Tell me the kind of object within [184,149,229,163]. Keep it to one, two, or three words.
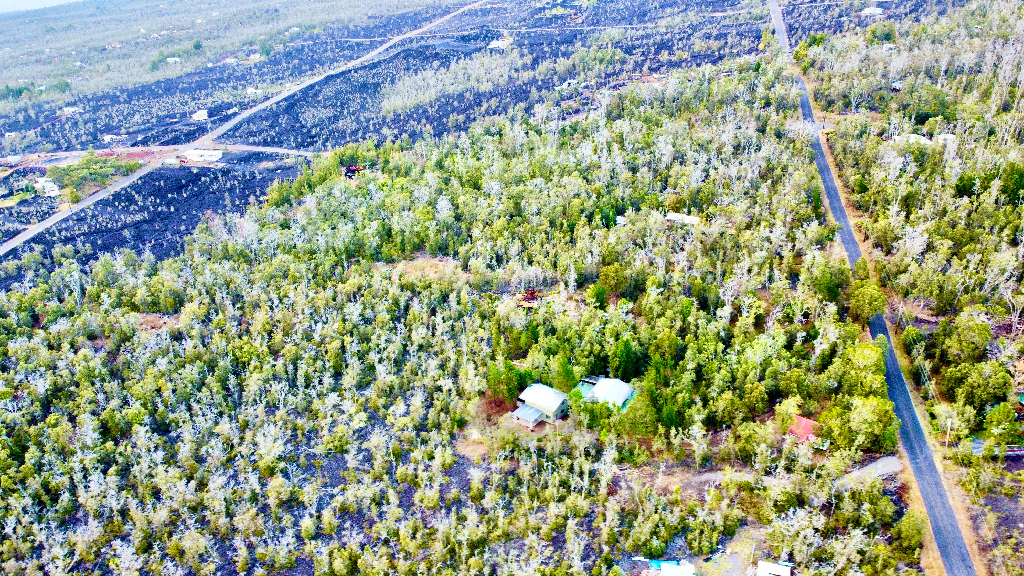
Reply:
house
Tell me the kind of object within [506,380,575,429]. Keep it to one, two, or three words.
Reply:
house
